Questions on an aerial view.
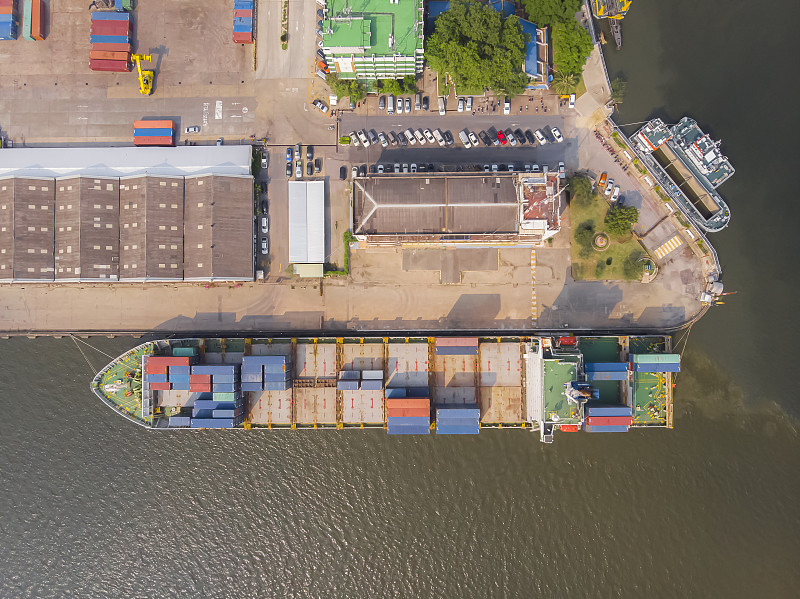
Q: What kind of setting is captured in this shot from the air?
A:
port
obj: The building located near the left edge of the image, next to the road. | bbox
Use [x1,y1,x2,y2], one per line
[0,145,259,282]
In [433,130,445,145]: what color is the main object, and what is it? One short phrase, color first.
white vehicle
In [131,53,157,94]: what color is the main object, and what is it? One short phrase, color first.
yellow work vehicle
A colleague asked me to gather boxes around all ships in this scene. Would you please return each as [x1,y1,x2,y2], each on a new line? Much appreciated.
[627,116,731,231]
[672,115,736,187]
[88,334,677,444]
[594,0,633,19]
